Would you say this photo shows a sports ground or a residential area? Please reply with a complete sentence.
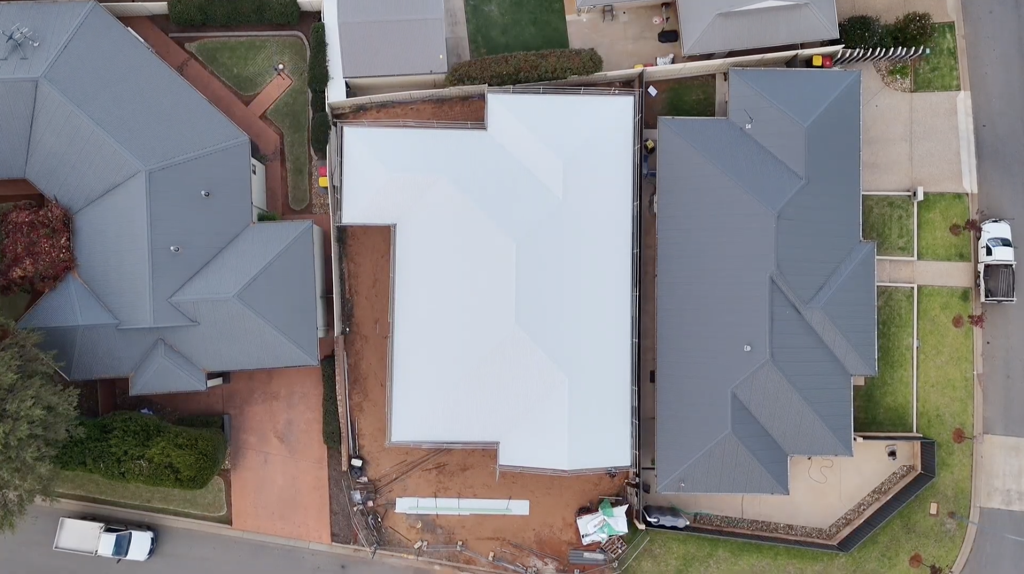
What you see here is a residential area.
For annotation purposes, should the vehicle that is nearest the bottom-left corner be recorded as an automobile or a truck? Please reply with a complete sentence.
I'd say the vehicle that is nearest the bottom-left corner is a truck.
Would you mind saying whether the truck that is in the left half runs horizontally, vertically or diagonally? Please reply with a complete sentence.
What the image shows is the truck that is in the left half lying horizontally.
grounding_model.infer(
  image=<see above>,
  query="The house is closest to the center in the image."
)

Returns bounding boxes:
[340,91,638,471]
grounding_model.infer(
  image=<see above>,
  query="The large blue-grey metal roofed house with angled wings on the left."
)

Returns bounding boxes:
[0,0,332,397]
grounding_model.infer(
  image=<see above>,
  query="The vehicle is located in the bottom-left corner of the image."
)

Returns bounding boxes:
[49,517,158,566]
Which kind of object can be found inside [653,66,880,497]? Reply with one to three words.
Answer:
house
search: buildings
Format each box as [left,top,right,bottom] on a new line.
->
[669,0,841,63]
[337,0,450,97]
[653,66,880,497]
[0,0,332,397]
[340,91,638,471]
